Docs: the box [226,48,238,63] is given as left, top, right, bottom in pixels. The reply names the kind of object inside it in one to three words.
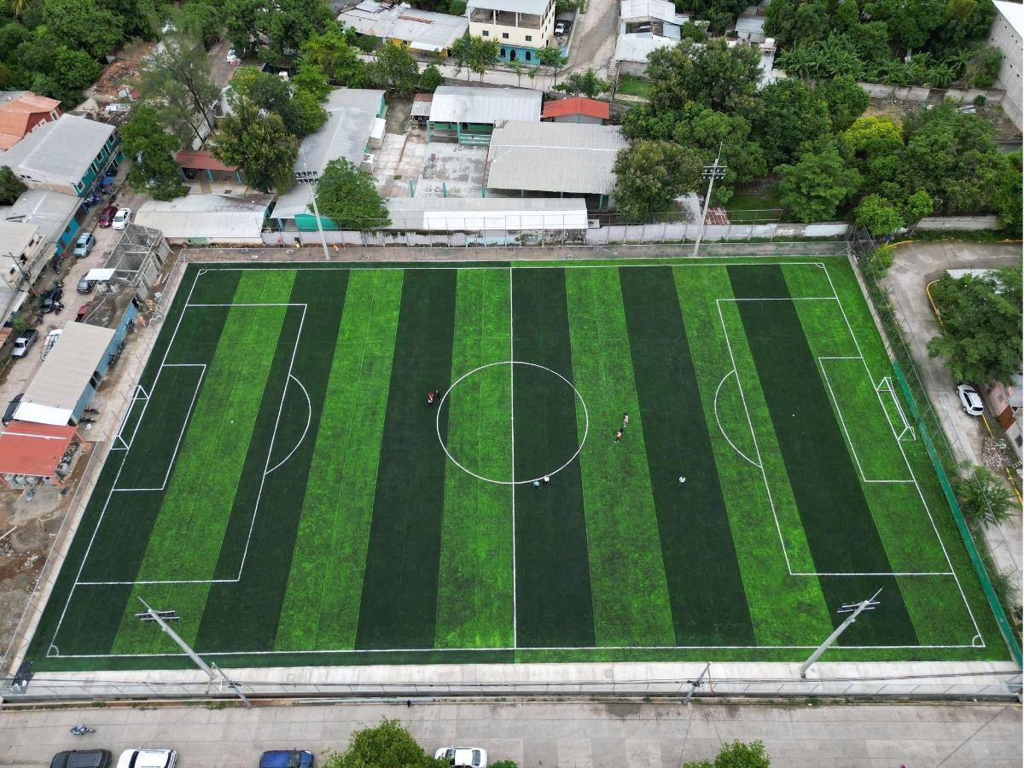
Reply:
vehicle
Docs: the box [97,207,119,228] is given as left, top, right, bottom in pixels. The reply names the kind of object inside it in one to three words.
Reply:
car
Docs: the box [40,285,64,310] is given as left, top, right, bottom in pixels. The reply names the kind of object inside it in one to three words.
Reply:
car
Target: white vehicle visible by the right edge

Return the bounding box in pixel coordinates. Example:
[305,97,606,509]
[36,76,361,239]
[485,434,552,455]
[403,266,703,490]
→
[954,386,987,417]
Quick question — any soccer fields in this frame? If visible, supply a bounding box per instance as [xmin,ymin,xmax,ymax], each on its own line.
[32,255,1011,668]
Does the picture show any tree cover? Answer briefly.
Yes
